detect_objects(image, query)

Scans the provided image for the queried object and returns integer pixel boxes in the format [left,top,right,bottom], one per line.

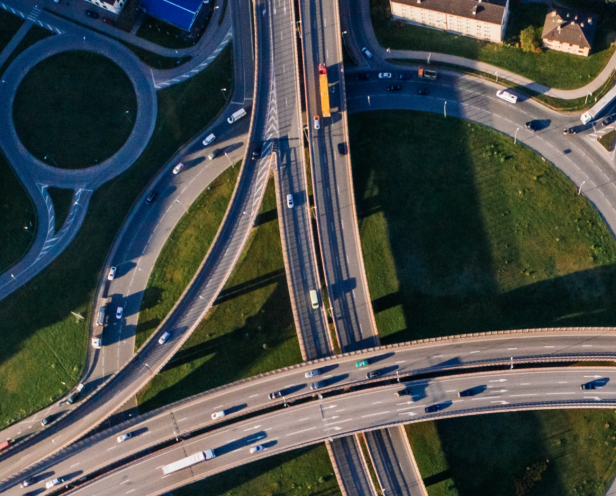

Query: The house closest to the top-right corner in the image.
[542,10,597,57]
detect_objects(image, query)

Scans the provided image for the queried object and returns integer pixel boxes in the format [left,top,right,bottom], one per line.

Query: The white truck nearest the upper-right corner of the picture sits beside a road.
[578,84,616,121]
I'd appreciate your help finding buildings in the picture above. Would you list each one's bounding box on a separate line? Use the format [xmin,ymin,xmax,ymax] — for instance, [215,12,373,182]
[389,0,509,46]
[79,0,126,16]
[138,0,212,37]
[542,10,597,57]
